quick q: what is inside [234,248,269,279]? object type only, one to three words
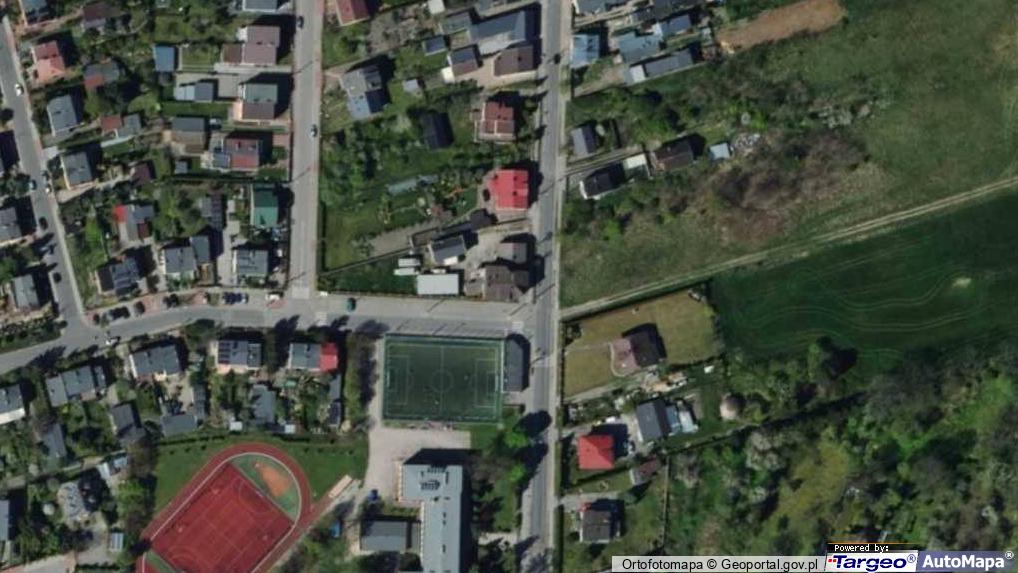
house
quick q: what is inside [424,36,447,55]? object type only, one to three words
shed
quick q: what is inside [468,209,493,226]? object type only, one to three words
building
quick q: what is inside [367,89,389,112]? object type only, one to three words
solar panel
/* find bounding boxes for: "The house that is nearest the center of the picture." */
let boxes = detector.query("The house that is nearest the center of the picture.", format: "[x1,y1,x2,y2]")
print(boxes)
[481,263,529,302]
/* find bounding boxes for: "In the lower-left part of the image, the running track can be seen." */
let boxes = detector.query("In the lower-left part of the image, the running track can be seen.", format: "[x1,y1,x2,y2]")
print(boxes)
[134,443,333,573]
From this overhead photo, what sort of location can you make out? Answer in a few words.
residential area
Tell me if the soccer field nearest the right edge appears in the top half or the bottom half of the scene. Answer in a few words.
bottom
